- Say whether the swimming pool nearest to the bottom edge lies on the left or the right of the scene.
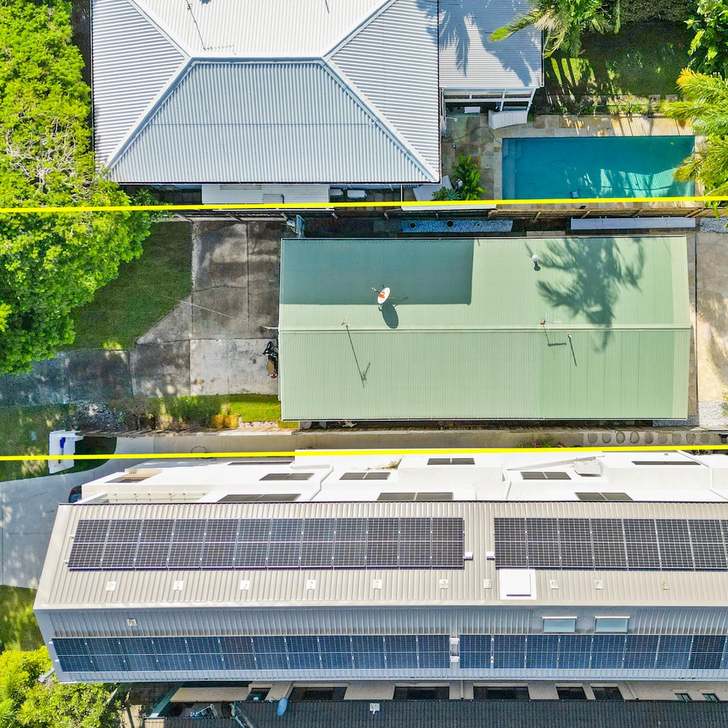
right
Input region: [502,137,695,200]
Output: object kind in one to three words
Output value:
swimming pool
